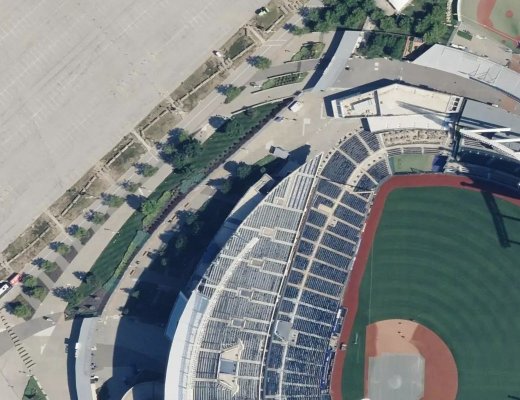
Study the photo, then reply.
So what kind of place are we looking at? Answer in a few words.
sports ground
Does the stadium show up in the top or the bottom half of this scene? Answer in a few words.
bottom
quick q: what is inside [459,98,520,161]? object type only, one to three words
building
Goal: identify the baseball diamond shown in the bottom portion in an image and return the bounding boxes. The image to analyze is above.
[270,132,520,400]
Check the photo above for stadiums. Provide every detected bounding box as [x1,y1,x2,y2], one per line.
[128,128,520,400]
